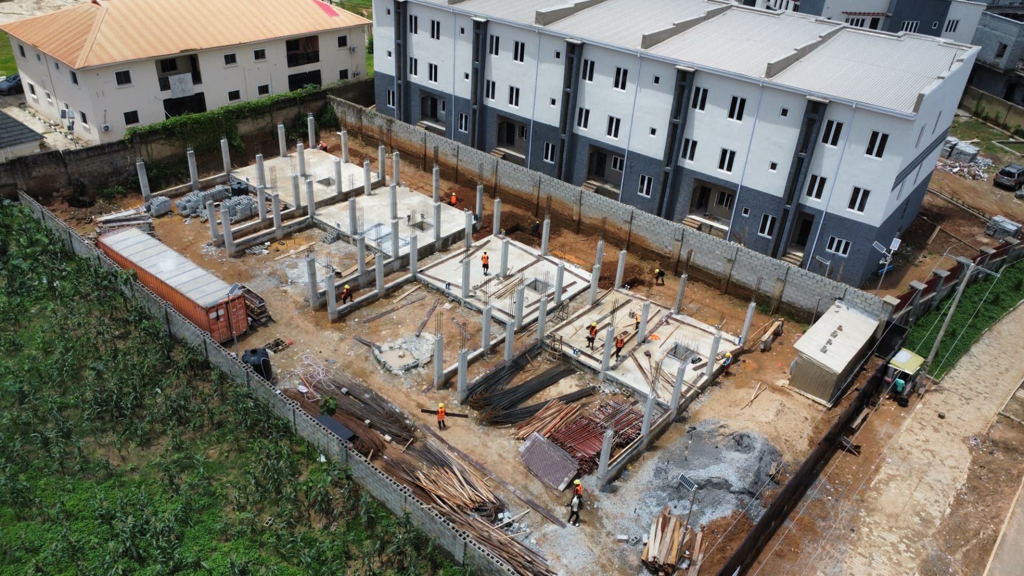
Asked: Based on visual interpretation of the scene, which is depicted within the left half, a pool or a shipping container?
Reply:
shipping container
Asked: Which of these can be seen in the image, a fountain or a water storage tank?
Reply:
water storage tank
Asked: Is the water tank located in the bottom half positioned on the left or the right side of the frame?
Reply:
left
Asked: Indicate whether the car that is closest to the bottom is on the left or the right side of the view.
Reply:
right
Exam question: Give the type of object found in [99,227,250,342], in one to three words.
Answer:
shipping container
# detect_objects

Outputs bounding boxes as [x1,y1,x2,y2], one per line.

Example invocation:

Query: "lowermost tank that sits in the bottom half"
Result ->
[240,343,280,383]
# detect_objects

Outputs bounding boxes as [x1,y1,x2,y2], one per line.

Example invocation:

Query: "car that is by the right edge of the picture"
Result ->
[997,162,1024,188]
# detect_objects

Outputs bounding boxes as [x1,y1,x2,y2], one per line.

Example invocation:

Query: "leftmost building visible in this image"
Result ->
[0,101,45,169]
